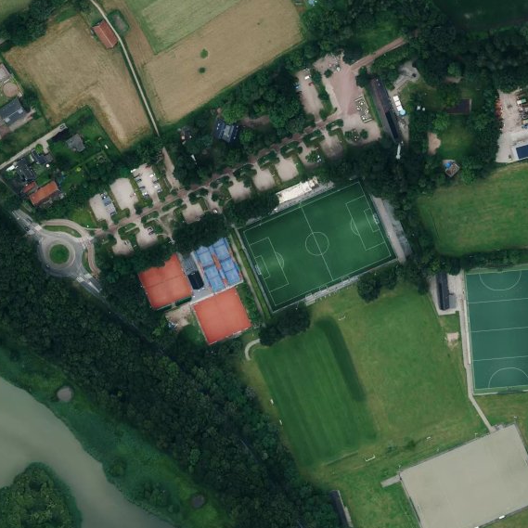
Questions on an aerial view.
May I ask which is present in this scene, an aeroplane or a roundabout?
roundabout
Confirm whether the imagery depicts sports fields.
Yes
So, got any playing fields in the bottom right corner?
Yes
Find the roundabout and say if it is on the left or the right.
left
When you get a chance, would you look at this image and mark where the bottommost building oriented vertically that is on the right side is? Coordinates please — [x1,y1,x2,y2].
[437,273,450,310]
